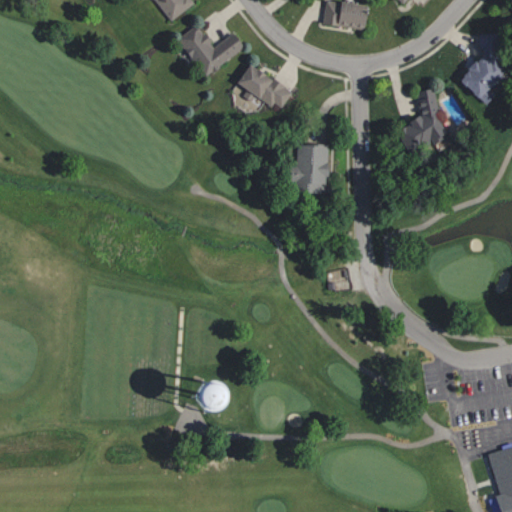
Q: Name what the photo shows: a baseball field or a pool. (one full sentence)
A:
This aerial view contains a pool.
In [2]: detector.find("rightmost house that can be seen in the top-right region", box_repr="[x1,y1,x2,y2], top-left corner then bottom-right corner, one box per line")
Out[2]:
[460,59,502,106]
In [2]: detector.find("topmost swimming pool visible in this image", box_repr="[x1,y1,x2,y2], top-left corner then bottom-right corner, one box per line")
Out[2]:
[438,93,469,128]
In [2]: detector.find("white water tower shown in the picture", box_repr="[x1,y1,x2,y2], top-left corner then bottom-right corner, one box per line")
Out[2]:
[191,378,232,414]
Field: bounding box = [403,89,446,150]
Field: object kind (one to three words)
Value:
house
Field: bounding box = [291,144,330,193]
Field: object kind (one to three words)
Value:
house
